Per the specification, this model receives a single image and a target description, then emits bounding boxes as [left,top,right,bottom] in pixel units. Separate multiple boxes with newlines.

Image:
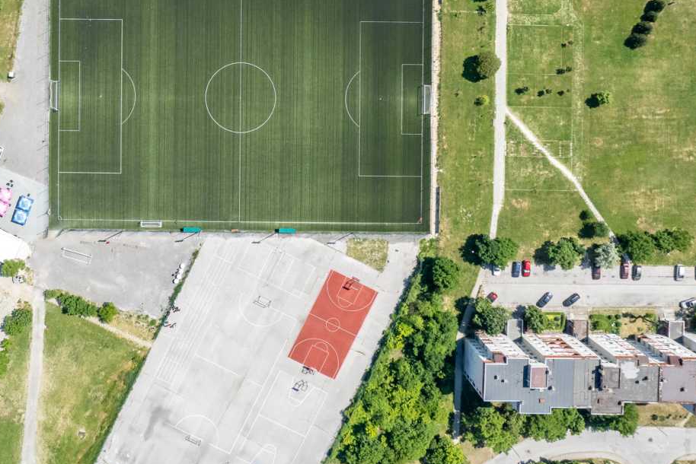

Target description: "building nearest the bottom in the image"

[463,332,696,416]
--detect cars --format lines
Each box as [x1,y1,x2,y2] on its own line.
[537,291,552,307]
[512,262,520,277]
[681,297,696,308]
[591,264,601,281]
[485,289,500,305]
[632,265,641,281]
[620,261,629,278]
[563,293,579,307]
[675,263,683,281]
[522,259,531,277]
[493,262,501,278]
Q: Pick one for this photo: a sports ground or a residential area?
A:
sports ground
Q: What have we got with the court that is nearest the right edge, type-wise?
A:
basketball court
